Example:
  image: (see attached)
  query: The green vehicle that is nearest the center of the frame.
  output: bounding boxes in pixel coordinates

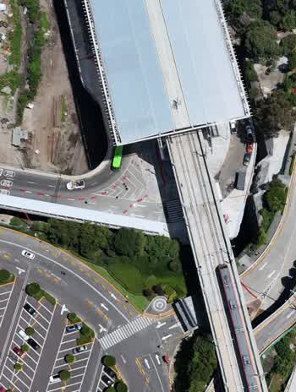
[112,143,125,171]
